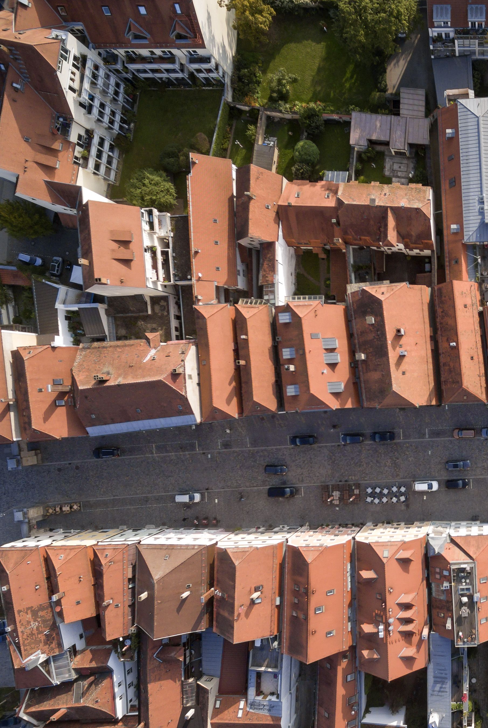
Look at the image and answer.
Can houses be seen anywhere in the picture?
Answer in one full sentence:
Yes, this view includes a house.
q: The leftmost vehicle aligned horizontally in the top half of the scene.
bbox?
[17,252,45,268]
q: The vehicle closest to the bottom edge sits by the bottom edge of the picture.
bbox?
[0,714,24,728]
